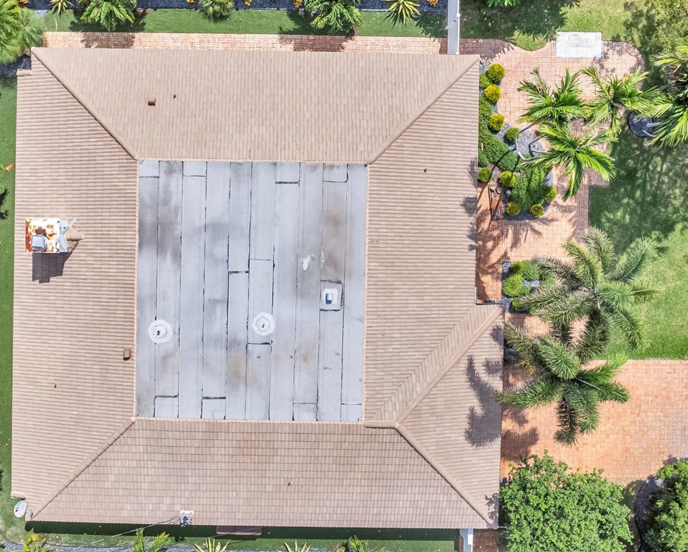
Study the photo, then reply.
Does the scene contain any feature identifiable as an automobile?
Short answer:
No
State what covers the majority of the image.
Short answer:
buildings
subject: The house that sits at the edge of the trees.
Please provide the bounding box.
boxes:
[8,43,508,534]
